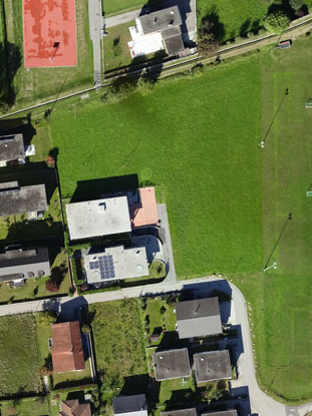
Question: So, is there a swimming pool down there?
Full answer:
No, there appears to be no swimming pool in this shot.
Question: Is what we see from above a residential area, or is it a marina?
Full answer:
The area seen from above is a residential area.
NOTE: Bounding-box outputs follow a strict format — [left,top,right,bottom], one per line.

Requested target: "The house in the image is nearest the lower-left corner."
[59,394,92,416]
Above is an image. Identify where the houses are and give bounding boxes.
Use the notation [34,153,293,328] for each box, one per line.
[0,245,52,282]
[0,134,27,161]
[84,246,150,283]
[49,320,86,373]
[160,407,198,416]
[113,393,149,416]
[59,394,92,416]
[202,409,238,416]
[0,181,50,216]
[194,350,231,383]
[153,348,191,381]
[128,7,185,59]
[175,296,224,339]
[66,196,133,240]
